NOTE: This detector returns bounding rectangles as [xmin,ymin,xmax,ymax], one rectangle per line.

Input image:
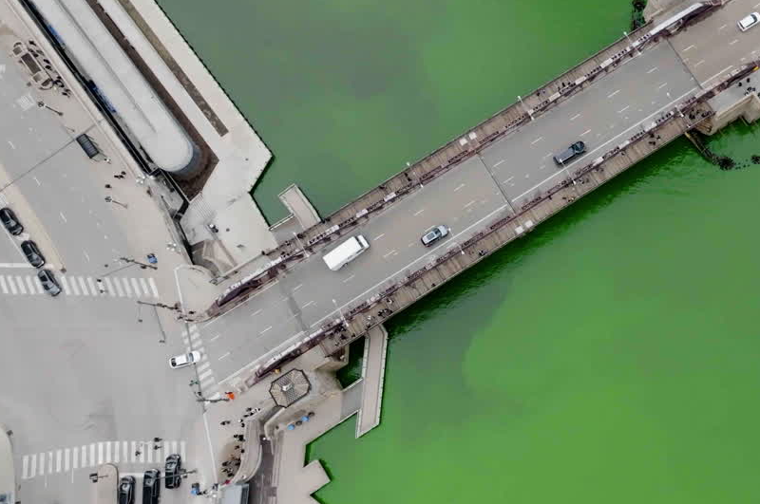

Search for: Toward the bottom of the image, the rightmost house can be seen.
[268,369,323,408]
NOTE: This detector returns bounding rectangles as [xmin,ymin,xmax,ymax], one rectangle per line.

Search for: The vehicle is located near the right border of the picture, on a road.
[736,12,760,31]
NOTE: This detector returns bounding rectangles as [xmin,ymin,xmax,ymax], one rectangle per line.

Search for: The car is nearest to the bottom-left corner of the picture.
[118,474,138,504]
